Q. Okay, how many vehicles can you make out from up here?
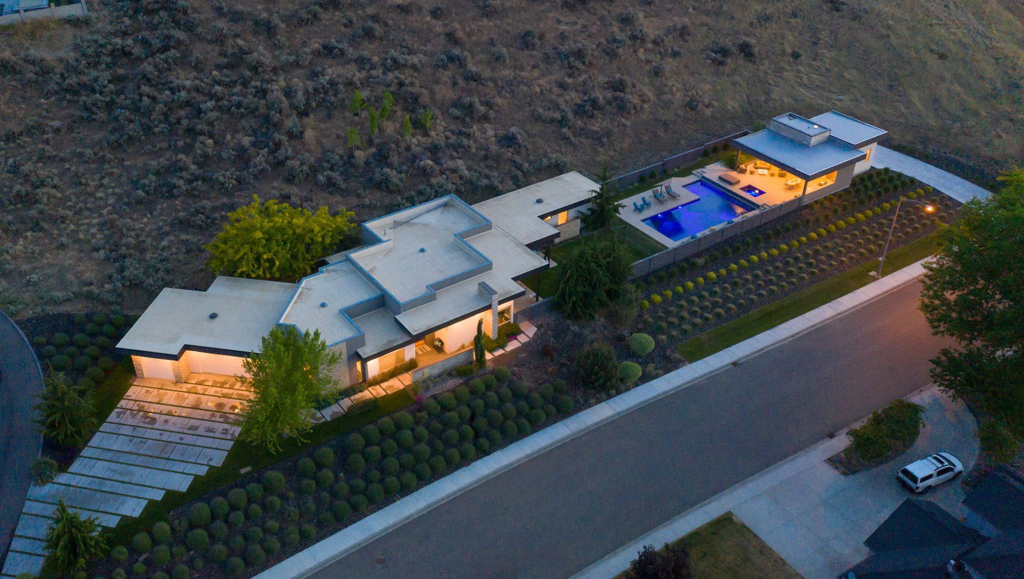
1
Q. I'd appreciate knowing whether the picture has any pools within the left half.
No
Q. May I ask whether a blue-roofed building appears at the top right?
Yes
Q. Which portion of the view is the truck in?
bottom right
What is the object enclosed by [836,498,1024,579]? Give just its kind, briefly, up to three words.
house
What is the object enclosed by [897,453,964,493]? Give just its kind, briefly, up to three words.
truck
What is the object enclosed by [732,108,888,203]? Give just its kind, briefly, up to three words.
building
